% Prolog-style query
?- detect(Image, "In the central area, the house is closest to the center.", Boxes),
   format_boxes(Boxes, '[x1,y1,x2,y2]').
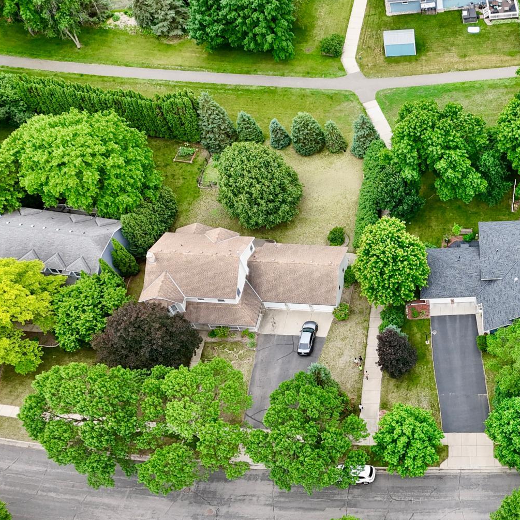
[139,217,349,334]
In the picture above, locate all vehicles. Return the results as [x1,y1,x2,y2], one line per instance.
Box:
[340,469,375,485]
[295,321,317,356]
